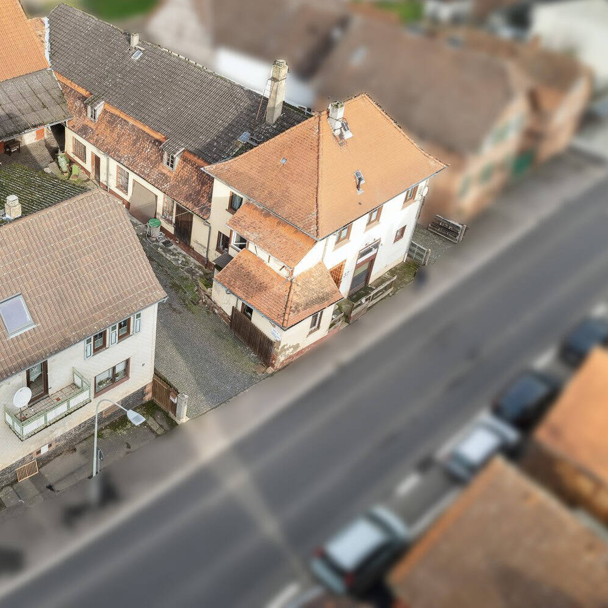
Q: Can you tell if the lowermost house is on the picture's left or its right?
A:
right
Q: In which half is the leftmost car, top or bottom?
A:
bottom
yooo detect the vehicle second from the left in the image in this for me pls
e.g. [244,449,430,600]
[441,419,521,487]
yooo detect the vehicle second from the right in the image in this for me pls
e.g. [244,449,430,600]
[500,363,572,425]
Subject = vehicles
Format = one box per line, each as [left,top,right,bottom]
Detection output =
[562,317,608,365]
[500,363,572,425]
[441,419,521,487]
[320,507,413,597]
